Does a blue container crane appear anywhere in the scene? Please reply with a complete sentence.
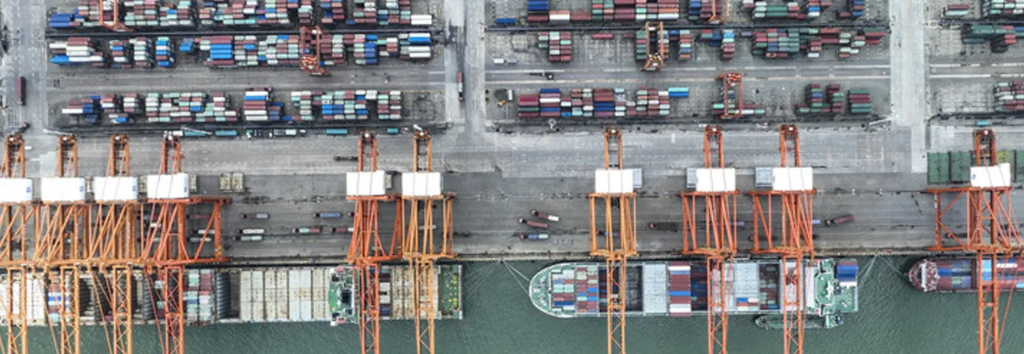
No, no blue container crane can be seen from above.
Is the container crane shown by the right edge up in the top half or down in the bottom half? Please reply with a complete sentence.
The bottom half of the photo is where the container crane shown by the right edge is.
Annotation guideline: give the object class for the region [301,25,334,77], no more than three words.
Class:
container crane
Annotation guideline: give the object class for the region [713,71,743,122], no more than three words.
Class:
container crane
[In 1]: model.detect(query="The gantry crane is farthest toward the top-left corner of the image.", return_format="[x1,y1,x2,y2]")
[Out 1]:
[98,0,141,38]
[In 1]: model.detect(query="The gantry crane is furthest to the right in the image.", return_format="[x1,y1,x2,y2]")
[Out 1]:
[921,120,1022,354]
